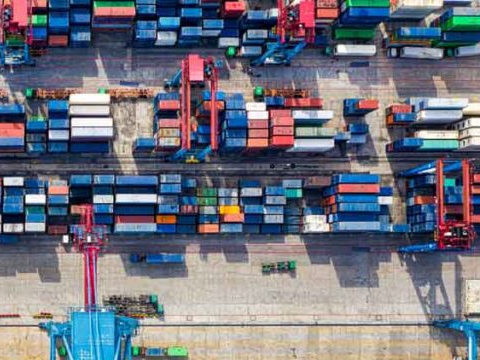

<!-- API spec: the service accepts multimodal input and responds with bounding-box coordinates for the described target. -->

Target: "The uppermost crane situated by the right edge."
[398,157,479,258]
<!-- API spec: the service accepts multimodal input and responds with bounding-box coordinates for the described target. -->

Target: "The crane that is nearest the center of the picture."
[164,54,225,166]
